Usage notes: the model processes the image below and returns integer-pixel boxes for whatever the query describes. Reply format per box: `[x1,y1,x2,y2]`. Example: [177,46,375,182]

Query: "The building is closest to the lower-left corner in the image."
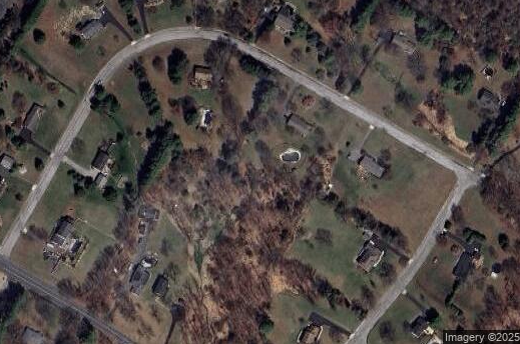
[22,325,47,344]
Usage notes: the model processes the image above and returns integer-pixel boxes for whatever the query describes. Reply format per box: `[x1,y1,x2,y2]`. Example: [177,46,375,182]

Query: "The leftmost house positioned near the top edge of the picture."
[79,16,112,38]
